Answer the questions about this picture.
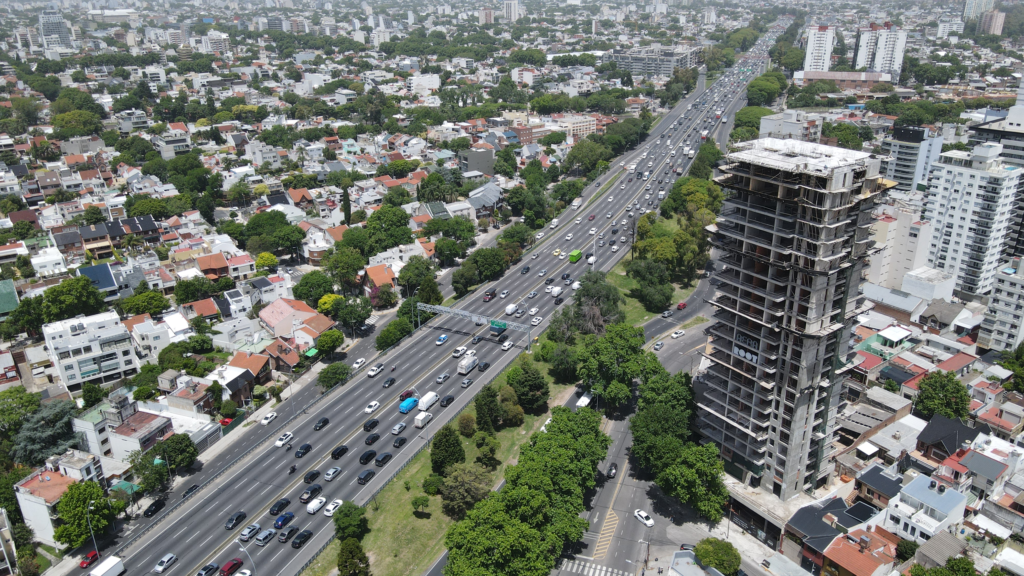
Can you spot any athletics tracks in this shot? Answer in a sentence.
No, no athletics track can be seen from above.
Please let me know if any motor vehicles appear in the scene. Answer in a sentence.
Yes, you can see a motor vehicle in this photo.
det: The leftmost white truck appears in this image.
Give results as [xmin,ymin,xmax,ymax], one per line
[92,546,133,576]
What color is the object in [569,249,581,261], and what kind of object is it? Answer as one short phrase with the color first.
green vehicle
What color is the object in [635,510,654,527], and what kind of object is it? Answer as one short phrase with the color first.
white car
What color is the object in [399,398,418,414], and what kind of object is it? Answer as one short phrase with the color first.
blue vehicle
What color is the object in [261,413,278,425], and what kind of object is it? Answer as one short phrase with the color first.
white vehicle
